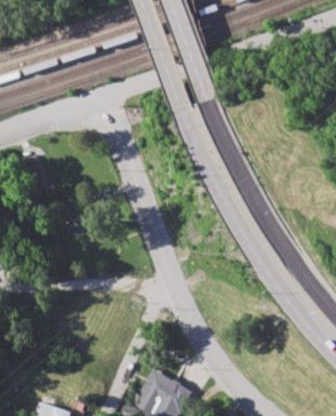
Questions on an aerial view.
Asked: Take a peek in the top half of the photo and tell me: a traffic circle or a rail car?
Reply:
rail car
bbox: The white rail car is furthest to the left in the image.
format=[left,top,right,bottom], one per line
[0,70,22,84]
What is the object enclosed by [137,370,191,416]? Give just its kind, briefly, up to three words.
house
